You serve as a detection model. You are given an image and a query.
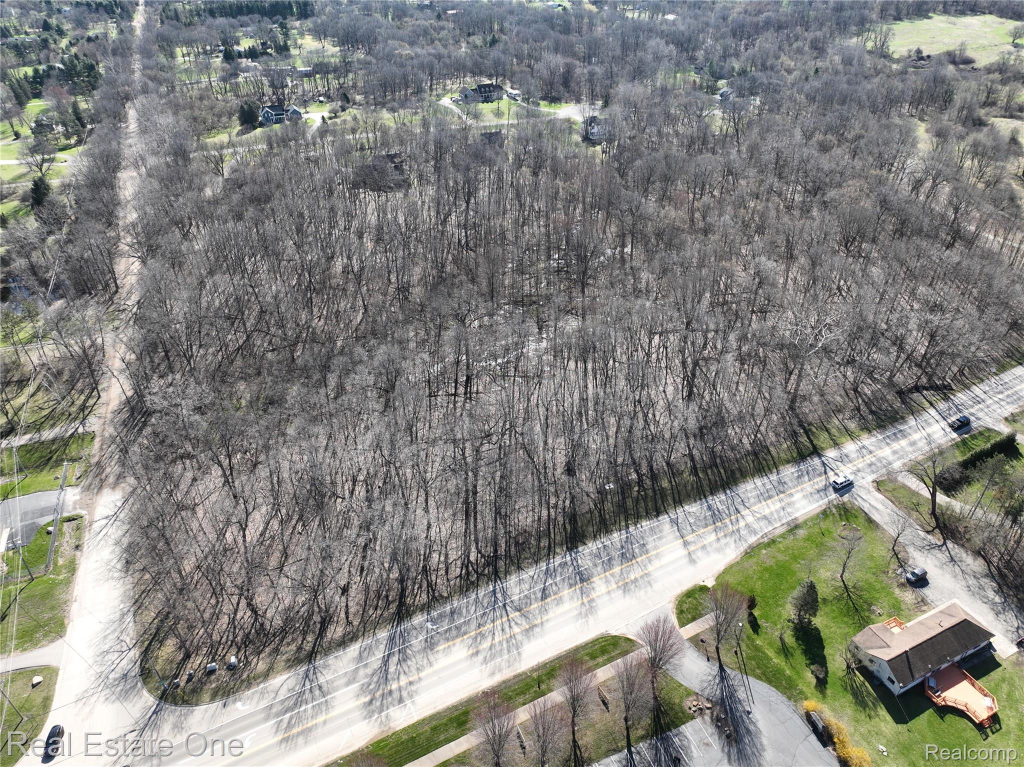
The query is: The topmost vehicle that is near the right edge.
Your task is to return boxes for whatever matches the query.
[950,419,973,432]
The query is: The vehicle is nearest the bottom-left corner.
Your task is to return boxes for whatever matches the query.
[32,726,69,761]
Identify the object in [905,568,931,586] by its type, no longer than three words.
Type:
car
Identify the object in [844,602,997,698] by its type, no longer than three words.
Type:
house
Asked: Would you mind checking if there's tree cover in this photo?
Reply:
Yes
